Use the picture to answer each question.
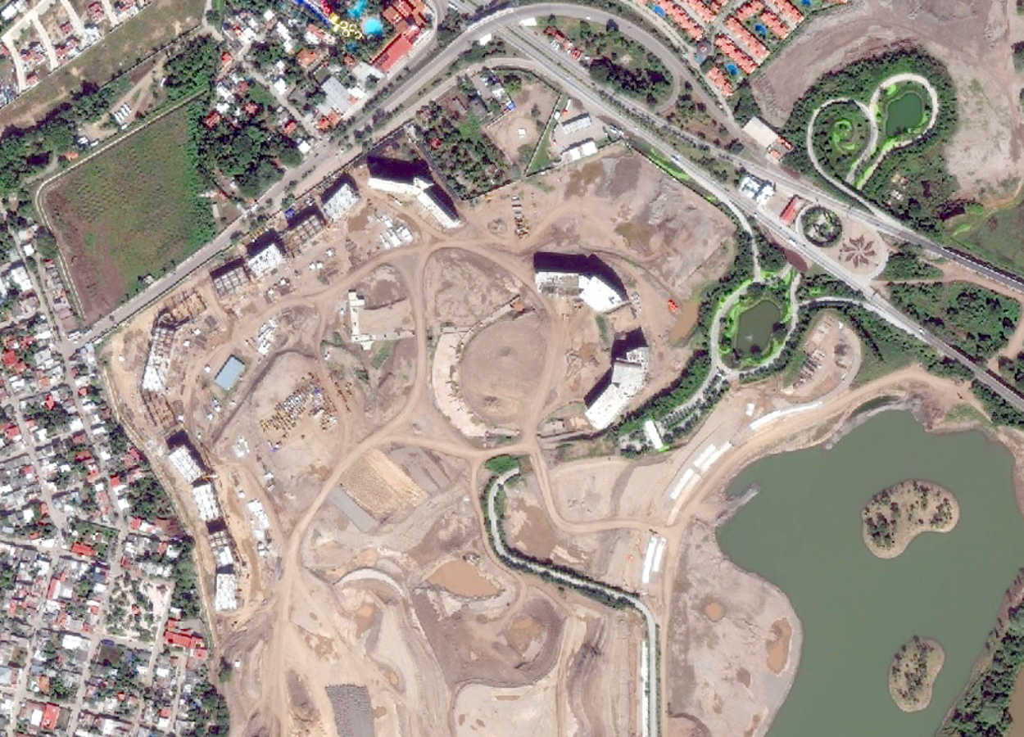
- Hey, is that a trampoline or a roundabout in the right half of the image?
roundabout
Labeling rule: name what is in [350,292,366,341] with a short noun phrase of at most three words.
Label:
building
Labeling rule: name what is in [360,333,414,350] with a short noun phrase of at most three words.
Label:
building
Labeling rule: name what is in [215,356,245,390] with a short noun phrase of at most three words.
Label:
shed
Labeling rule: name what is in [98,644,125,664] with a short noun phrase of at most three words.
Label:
house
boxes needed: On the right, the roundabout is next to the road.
[797,202,845,250]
